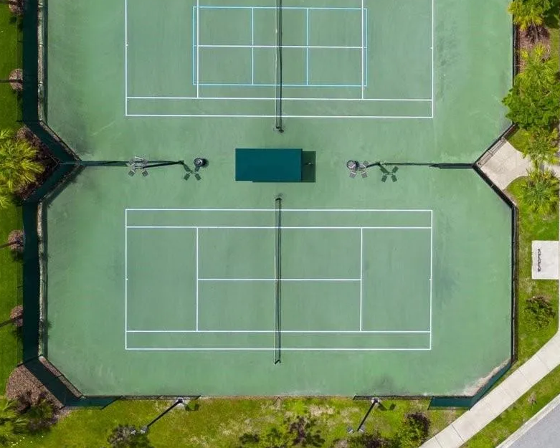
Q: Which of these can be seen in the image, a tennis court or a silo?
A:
tennis court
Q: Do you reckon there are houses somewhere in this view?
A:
No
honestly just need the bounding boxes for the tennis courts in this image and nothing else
[43,162,513,395]
[43,0,514,162]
